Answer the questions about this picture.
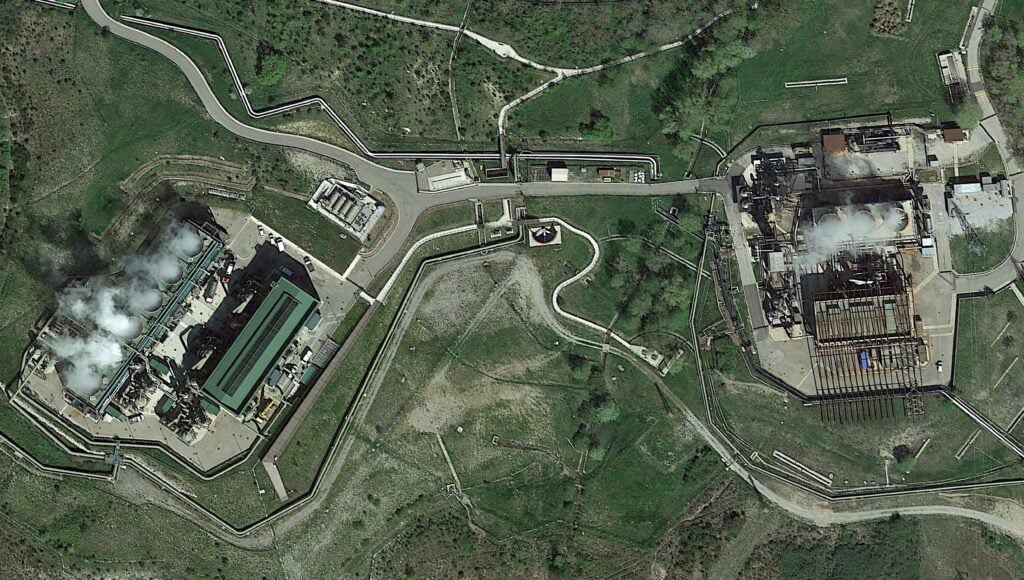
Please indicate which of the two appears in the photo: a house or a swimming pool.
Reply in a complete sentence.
Looking from above, you can make out a house.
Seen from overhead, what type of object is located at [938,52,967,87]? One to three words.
house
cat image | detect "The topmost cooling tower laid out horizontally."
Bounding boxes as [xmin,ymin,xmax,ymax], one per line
[811,199,917,247]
